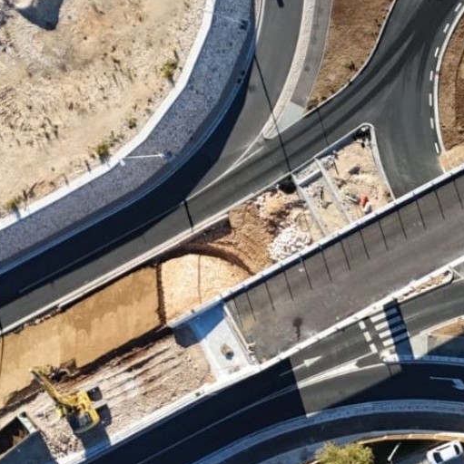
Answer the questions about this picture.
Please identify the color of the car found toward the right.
white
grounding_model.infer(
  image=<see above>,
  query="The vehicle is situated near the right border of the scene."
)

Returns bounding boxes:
[425,440,463,464]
